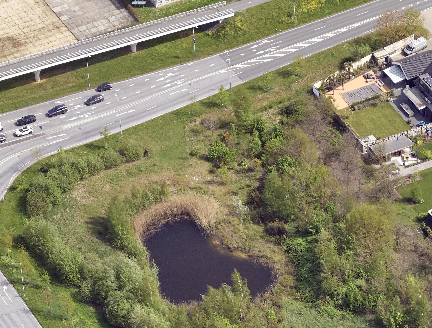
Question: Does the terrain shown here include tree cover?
Yes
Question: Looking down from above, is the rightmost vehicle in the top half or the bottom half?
top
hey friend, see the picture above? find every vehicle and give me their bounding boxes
[14,124,35,137]
[16,113,37,126]
[86,93,104,105]
[47,103,67,116]
[403,34,429,55]
[94,80,115,93]
[0,134,7,142]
